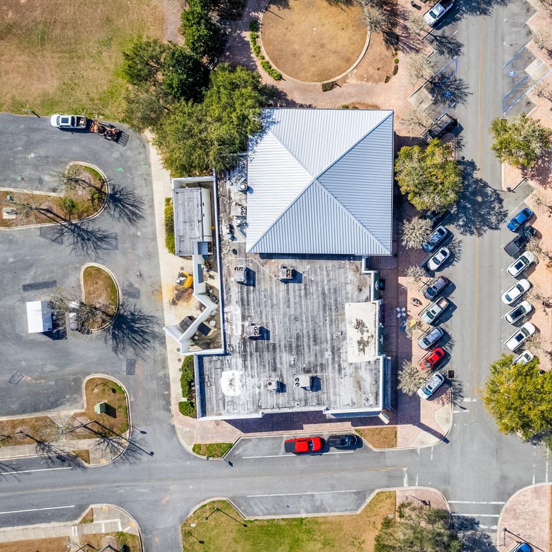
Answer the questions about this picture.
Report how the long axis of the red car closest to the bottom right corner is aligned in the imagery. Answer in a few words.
on a diagonal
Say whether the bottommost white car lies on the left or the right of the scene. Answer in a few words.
right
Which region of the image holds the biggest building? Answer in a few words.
center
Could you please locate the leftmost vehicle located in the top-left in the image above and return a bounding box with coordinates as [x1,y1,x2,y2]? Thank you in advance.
[50,113,87,129]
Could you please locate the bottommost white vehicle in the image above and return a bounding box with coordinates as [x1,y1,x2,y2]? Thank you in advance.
[420,372,446,400]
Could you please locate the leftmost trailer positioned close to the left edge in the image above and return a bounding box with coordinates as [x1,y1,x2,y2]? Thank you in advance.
[27,292,54,333]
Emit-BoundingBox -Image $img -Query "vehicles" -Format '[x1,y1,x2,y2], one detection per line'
[507,251,534,278]
[50,113,87,129]
[507,207,533,232]
[284,437,324,454]
[421,112,459,145]
[421,346,446,371]
[69,301,84,332]
[420,204,447,229]
[422,274,450,301]
[423,226,449,253]
[326,434,361,449]
[512,543,532,552]
[505,300,531,326]
[420,296,452,326]
[417,325,446,351]
[420,372,446,400]
[502,279,531,305]
[505,227,534,258]
[505,323,534,352]
[426,246,453,273]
